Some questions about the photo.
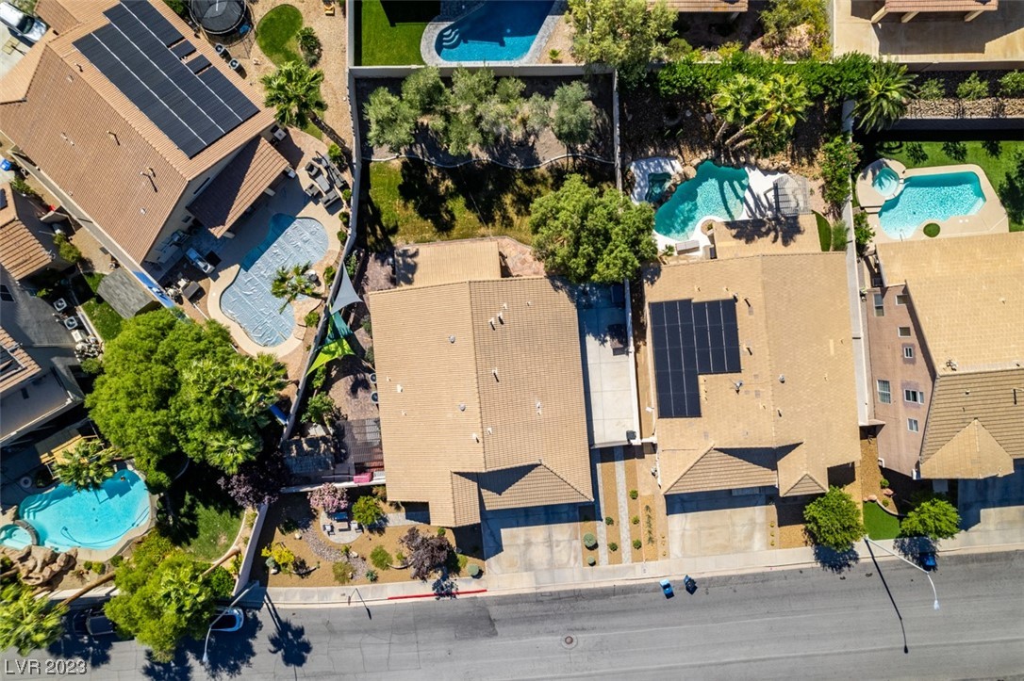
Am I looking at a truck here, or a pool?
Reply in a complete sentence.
Visible in the photo is a pool.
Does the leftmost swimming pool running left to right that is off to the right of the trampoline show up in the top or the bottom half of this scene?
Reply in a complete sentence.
The leftmost swimming pool running left to right that is off to the right of the trampoline sits in the top half of the picture.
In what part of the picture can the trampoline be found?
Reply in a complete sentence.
The trampoline appears toward the top left of the photo.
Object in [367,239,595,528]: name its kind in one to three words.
house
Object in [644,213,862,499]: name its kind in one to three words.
house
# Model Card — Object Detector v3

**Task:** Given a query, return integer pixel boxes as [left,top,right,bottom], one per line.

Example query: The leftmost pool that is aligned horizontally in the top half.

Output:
[429,0,578,65]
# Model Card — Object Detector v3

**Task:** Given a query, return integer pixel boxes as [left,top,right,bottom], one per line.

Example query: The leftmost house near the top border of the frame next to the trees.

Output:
[0,0,295,264]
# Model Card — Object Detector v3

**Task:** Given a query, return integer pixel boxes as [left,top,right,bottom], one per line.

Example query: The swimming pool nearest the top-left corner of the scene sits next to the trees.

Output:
[220,213,329,347]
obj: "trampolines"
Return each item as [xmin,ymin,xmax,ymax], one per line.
[178,0,250,40]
